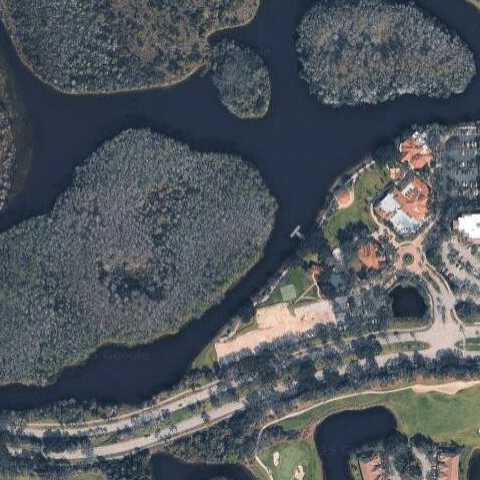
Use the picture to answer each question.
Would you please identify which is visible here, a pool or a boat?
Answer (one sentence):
I can see a pool in this picture.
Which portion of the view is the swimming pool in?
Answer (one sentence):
The swimming pool is in the right part of the image.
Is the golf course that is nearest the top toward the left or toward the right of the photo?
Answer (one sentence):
The golf course that is nearest the top sits on the right side.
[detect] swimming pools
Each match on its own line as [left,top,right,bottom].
[390,207,421,233]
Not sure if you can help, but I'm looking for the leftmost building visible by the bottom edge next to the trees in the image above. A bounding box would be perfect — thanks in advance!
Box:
[358,456,382,480]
